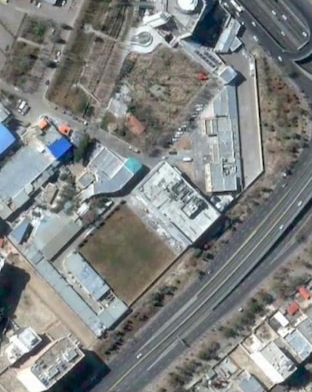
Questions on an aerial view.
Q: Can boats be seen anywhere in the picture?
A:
No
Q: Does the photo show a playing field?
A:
Yes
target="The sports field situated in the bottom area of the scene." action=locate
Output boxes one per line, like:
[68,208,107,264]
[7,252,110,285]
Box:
[80,206,174,303]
